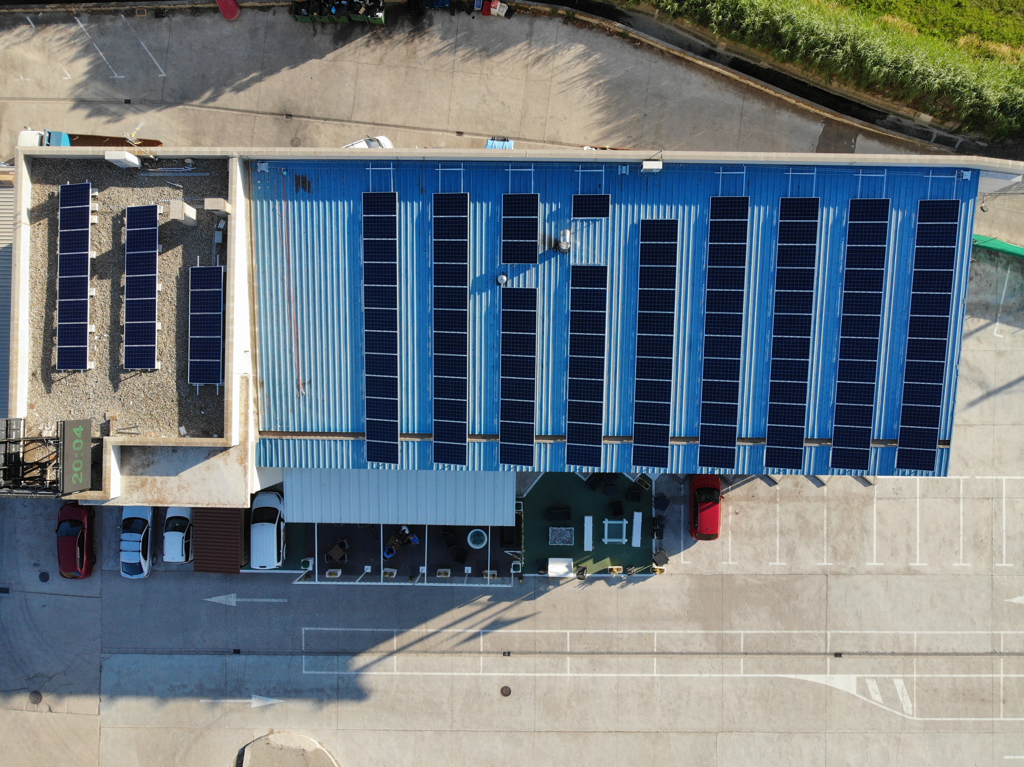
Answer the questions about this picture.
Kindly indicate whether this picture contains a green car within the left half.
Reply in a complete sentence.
No, no green car can be made out within the left half.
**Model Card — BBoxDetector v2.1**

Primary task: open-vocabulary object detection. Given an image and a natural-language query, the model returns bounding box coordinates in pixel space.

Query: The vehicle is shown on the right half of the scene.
[688,474,729,541]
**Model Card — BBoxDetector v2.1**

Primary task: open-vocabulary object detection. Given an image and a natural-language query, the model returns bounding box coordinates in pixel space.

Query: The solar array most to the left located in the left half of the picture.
[56,181,97,373]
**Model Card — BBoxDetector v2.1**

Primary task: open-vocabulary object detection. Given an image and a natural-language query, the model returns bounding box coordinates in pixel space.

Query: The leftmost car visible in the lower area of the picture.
[52,499,102,582]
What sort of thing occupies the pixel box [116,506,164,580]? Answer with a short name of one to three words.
car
